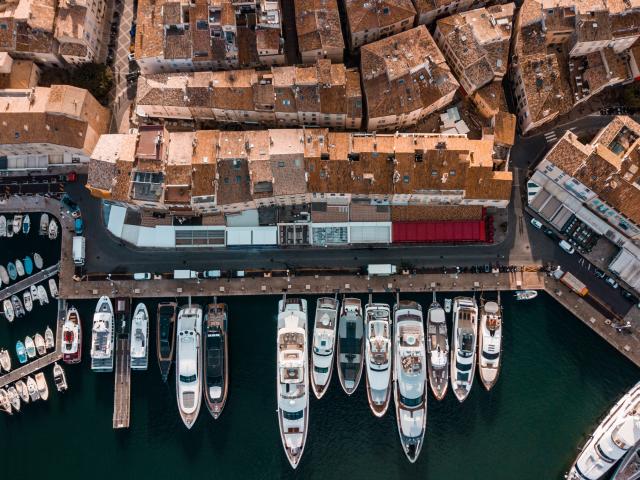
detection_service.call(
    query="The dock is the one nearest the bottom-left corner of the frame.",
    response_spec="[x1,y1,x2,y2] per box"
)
[0,348,62,386]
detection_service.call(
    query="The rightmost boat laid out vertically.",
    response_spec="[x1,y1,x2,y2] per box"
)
[474,292,505,398]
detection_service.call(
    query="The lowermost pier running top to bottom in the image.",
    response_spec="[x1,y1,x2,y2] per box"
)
[112,341,132,429]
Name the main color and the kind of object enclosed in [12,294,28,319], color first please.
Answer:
gray boat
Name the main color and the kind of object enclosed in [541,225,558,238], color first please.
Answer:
black vehicle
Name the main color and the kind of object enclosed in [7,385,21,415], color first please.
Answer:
white boat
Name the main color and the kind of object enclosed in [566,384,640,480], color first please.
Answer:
white boat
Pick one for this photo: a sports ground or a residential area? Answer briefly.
residential area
